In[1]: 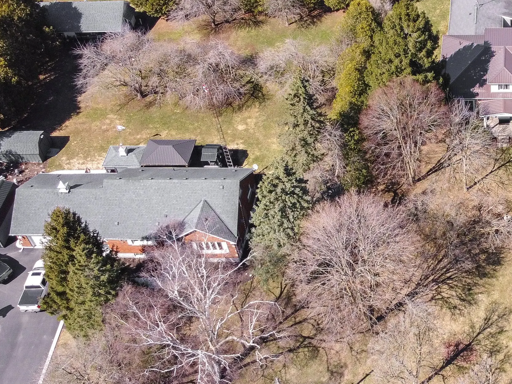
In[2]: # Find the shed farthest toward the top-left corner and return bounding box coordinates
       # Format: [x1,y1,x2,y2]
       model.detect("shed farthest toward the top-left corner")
[45,0,139,46]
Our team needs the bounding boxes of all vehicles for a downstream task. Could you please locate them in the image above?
[0,263,13,287]
[13,262,51,314]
